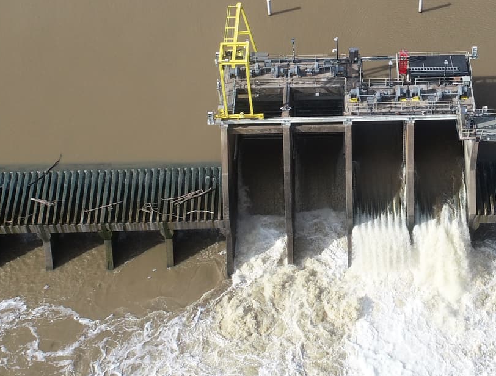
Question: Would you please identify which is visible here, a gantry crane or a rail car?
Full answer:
There is a gantry crane in the scene.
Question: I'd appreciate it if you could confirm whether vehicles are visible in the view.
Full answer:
No, no vehicle is visible in the scene.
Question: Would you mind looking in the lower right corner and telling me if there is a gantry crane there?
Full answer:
No, I can find no gantry crane in the lower right corner.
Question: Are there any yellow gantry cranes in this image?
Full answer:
Yes, the image includes a yellow gantry crane.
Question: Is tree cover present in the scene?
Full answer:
No, no tree cover is visible.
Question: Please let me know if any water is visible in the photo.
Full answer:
Yes, water can be seen from above here.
